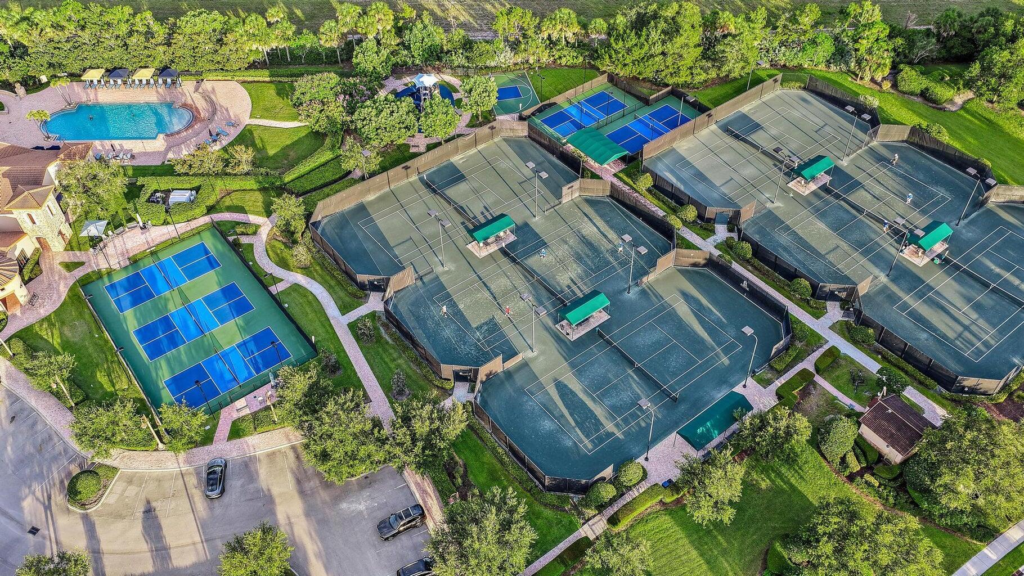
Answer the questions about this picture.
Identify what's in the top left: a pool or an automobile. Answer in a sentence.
The one visible in the top left is a pool.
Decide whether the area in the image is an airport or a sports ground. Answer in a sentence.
This image shows a sports ground.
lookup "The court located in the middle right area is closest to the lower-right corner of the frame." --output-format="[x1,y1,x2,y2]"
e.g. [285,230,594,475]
[861,202,1024,382]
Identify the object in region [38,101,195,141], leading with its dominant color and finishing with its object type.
blue swimming pool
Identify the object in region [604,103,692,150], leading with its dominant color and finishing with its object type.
blue sports court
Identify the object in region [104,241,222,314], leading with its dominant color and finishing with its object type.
blue sports court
